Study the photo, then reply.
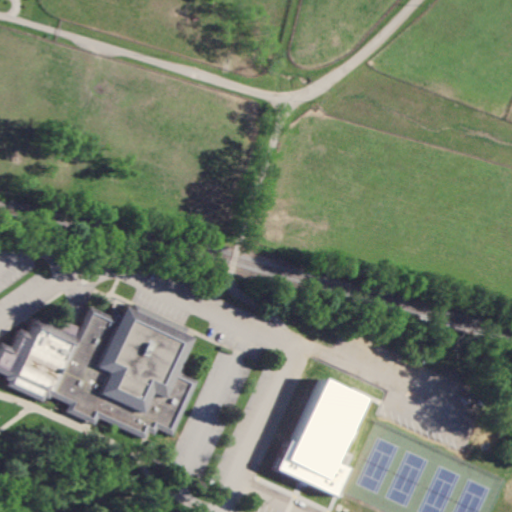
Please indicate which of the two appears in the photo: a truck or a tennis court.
tennis court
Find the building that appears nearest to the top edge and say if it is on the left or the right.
left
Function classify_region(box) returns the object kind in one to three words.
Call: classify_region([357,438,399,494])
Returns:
tennis court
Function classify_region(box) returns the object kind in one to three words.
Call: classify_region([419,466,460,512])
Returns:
tennis court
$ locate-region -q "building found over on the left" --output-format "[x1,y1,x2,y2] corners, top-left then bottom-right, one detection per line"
[0,306,194,437]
